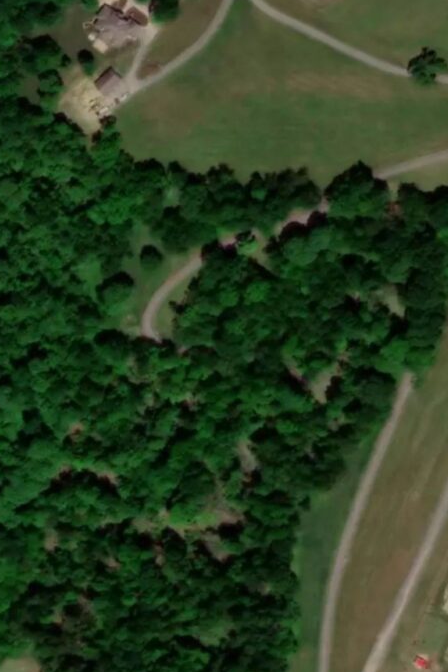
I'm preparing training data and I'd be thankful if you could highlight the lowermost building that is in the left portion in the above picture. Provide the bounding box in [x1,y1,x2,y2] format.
[97,67,124,95]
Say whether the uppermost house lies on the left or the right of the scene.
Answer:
left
